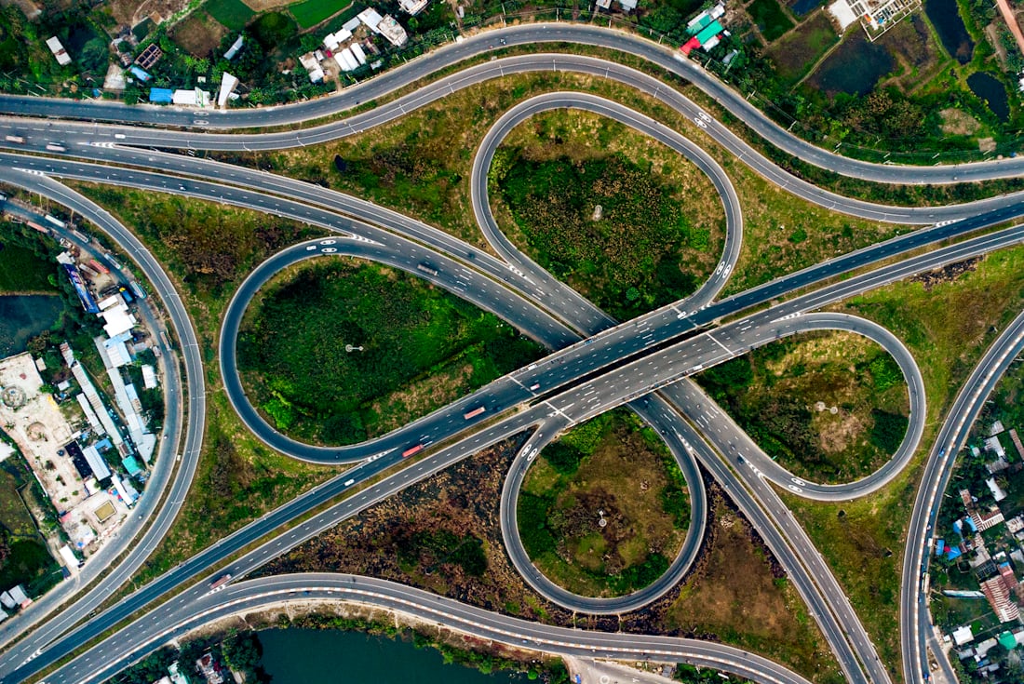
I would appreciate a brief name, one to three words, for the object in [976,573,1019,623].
building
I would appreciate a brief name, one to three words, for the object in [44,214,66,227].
vehicle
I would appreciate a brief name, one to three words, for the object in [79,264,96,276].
vehicle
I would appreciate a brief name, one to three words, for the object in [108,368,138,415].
shed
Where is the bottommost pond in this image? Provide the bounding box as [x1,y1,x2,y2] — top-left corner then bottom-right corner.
[0,293,63,360]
